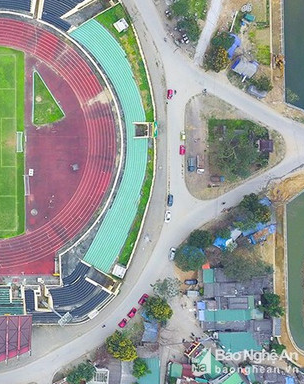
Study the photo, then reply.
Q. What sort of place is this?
sports ground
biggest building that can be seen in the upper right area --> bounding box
[230,55,256,78]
